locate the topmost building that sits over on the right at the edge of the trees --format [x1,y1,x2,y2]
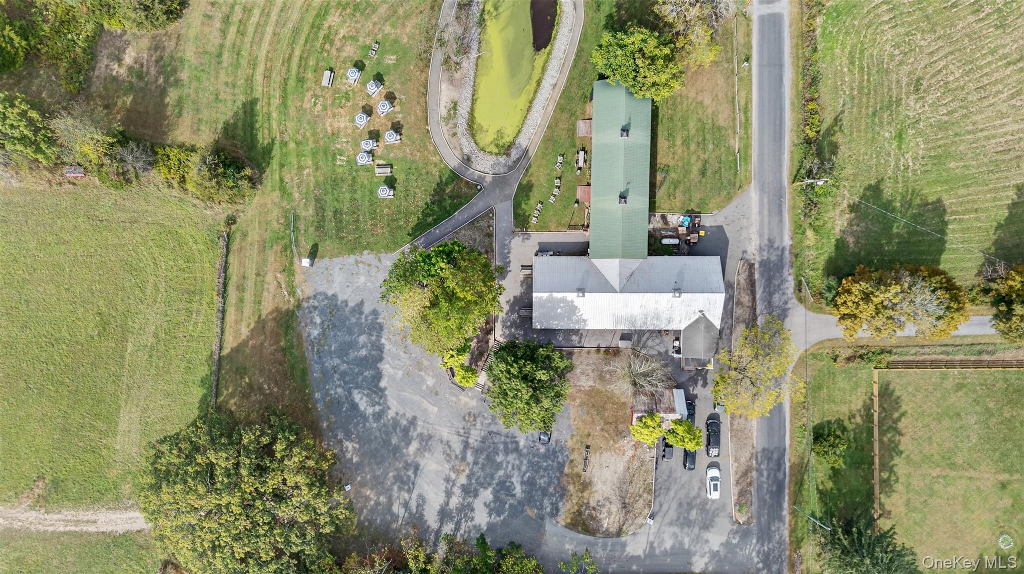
[588,86,653,261]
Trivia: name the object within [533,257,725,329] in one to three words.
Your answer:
barn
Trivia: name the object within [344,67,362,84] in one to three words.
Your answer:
umbrella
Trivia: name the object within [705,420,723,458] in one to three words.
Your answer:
vehicle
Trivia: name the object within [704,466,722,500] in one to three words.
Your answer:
car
